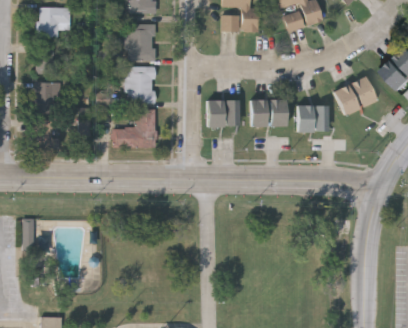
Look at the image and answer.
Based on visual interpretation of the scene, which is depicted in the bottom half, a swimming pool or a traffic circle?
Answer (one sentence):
You can see a swimming pool in the bottom half.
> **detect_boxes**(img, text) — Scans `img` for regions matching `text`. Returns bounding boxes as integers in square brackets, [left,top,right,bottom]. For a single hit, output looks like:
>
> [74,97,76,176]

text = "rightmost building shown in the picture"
[376,48,408,88]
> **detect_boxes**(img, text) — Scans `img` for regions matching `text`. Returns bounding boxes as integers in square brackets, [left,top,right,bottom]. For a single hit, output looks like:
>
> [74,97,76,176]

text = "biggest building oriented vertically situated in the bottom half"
[21,218,34,250]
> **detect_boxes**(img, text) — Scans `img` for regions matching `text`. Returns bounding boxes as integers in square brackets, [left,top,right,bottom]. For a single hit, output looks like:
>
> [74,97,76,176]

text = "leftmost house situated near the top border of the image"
[38,6,70,36]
